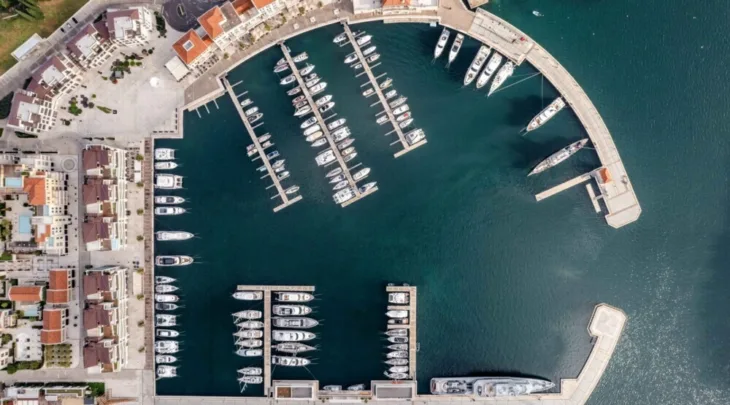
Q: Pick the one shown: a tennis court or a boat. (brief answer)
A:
boat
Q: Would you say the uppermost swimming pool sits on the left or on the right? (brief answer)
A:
left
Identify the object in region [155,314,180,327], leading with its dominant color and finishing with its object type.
white boat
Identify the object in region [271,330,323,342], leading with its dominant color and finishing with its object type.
white boat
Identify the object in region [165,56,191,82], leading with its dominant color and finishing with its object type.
white tent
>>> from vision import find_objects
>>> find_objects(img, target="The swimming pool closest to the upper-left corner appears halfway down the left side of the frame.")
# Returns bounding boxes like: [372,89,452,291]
[0,165,28,189]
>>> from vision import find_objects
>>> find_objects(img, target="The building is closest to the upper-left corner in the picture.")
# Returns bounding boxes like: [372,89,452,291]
[10,33,48,61]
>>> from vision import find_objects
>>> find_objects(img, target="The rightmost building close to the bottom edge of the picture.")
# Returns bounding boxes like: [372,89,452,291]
[376,384,414,400]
